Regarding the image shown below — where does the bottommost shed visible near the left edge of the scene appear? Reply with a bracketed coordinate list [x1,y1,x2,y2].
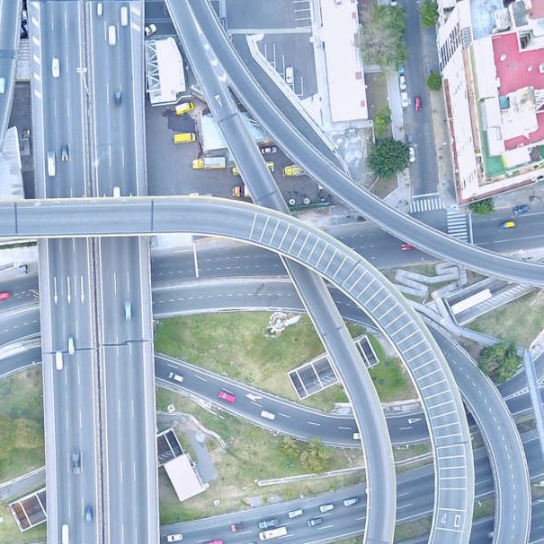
[0,126,26,199]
